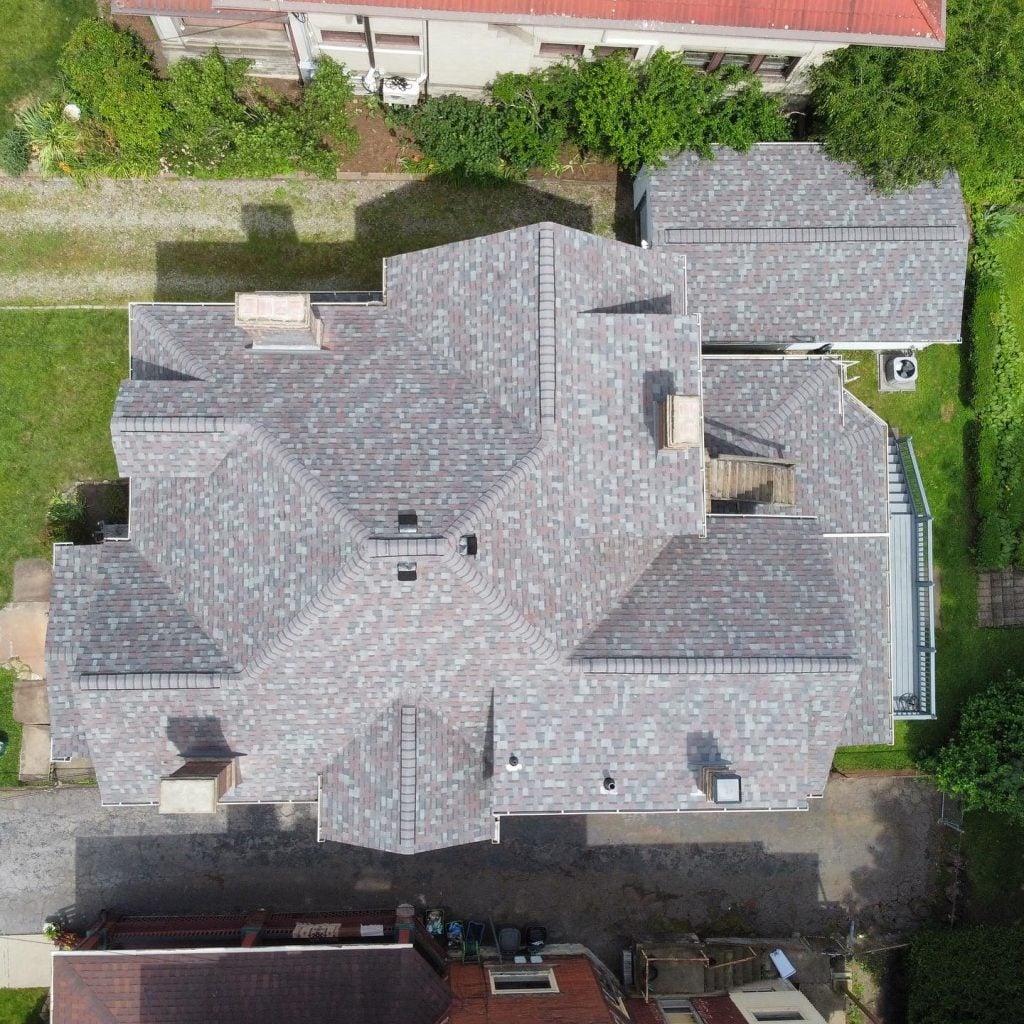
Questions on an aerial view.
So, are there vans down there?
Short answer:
No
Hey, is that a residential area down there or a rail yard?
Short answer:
residential area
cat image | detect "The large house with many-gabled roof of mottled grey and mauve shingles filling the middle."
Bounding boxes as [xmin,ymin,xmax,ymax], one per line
[46,220,934,853]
